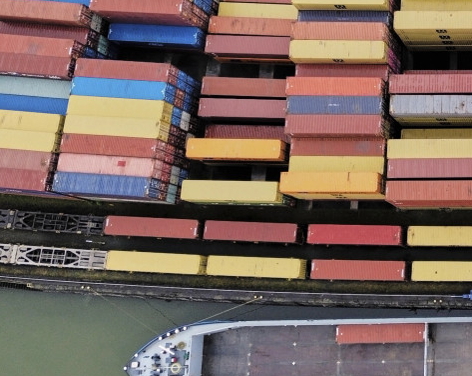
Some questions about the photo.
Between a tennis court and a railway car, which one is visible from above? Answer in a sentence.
I can see a railway car in this picture.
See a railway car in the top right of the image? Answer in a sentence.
No, looking in the top right of the image, there is no railway car.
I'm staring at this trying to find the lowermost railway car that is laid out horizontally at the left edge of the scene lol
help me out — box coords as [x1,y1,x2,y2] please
[14,245,108,271]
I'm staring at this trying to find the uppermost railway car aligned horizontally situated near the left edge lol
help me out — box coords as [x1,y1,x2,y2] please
[12,210,107,235]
